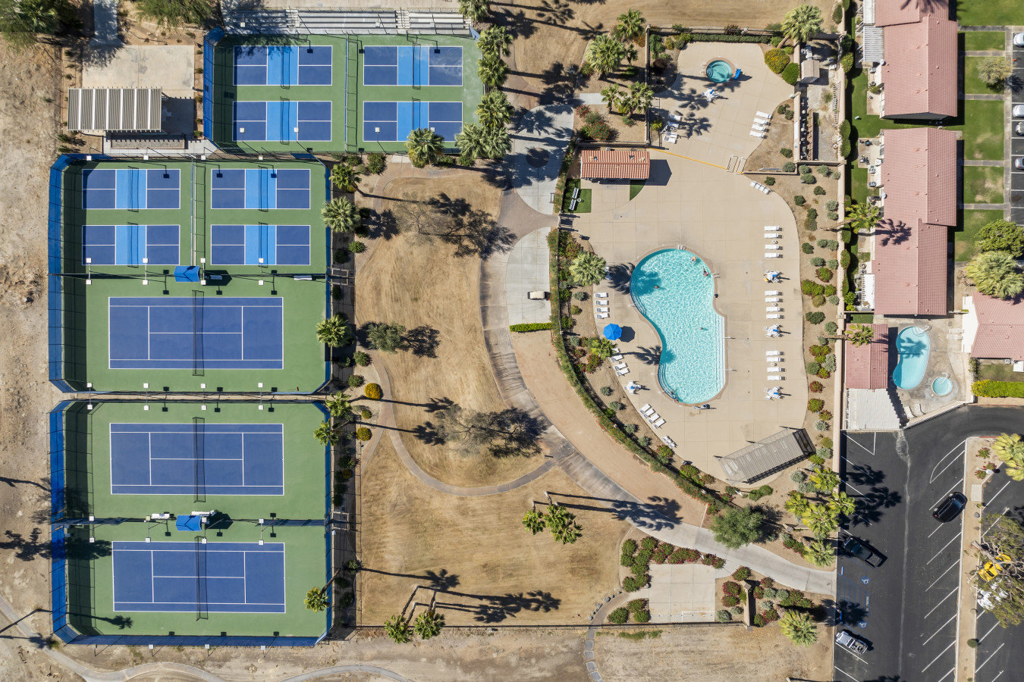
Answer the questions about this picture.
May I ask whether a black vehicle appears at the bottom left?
No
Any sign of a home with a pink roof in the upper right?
Yes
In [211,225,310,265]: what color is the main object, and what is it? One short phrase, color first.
blue sports court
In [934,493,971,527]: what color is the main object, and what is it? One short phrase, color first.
black car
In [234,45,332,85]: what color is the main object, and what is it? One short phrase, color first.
blue sports court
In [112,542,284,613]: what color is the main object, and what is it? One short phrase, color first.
blue tennis court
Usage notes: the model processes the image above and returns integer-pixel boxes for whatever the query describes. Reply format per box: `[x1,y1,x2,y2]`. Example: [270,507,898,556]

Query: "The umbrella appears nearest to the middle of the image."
[604,324,621,340]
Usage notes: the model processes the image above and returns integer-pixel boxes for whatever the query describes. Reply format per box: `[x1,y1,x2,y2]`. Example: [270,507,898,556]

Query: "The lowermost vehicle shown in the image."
[835,629,874,661]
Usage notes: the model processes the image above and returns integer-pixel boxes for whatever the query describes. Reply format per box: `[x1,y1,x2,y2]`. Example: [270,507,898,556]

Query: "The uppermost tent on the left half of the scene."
[174,266,206,283]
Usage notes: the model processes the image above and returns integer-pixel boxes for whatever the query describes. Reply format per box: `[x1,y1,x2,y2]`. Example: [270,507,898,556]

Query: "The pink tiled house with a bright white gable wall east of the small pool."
[962,292,1024,359]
